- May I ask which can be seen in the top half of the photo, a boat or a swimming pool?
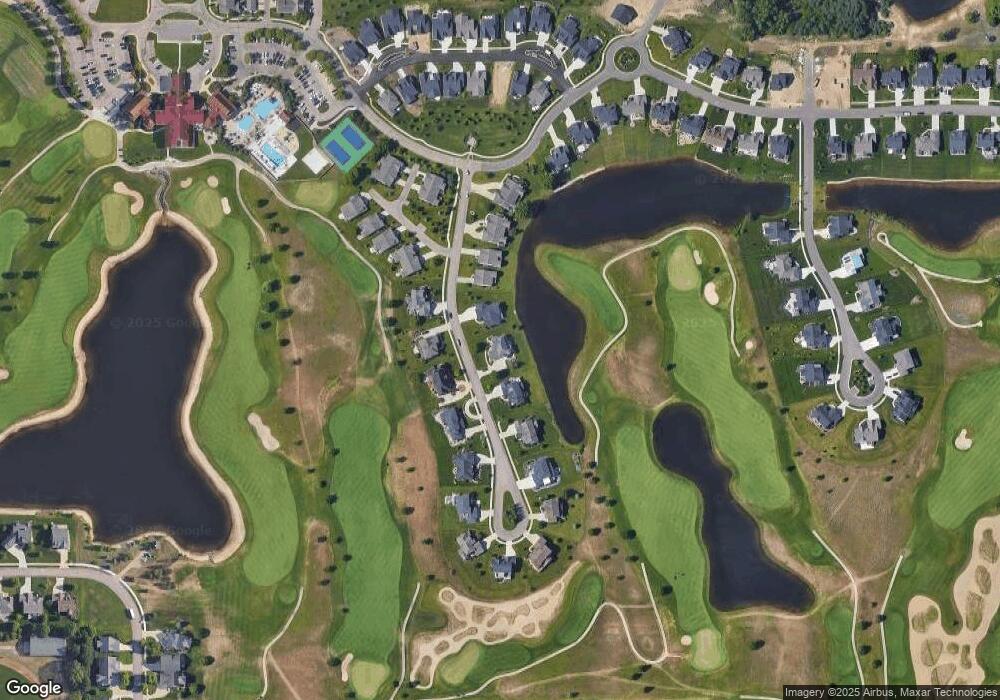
swimming pool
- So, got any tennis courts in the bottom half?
No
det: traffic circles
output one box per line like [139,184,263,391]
[604,36,650,82]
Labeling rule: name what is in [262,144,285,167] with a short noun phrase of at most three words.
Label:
swimming pool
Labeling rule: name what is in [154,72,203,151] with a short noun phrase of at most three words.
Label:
building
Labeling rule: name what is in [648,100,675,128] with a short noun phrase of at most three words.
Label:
house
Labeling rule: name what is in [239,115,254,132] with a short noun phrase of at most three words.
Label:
swimming pool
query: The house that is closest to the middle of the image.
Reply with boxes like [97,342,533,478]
[484,333,515,361]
